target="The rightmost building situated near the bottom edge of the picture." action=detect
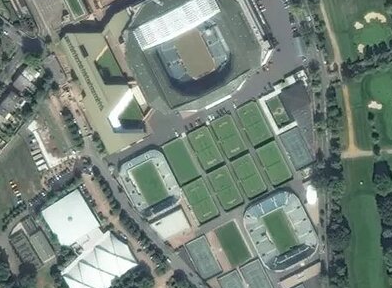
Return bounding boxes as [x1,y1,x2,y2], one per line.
[280,263,321,288]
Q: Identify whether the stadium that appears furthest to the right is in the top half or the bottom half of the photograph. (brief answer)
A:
bottom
